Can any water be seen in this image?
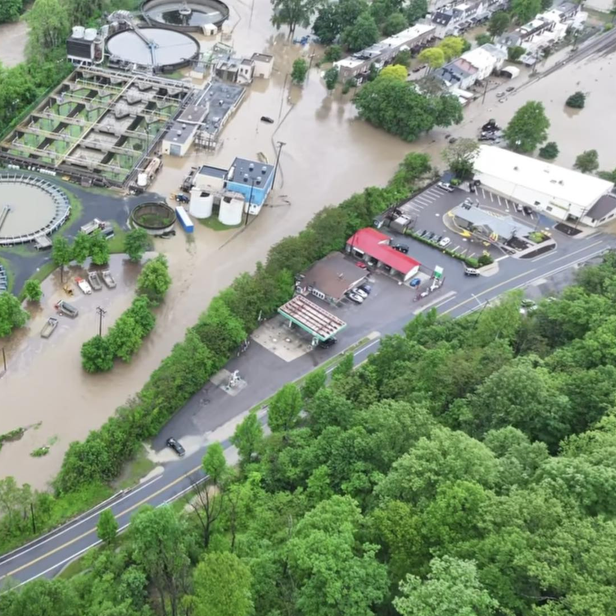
Yes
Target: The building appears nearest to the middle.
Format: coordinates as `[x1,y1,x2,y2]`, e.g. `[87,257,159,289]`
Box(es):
[300,253,366,311]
